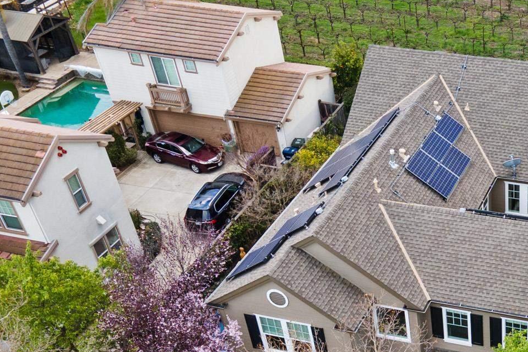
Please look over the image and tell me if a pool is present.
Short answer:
Yes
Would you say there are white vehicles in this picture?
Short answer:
No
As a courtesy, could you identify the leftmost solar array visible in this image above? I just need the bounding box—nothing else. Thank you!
[228,201,323,279]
